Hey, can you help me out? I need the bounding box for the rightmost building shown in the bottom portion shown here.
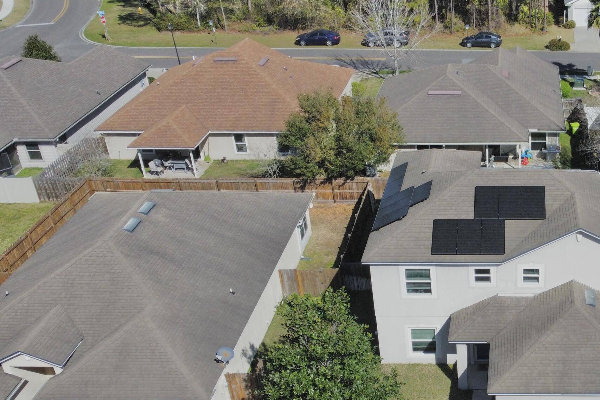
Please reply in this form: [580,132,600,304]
[361,148,600,400]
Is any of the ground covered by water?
No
